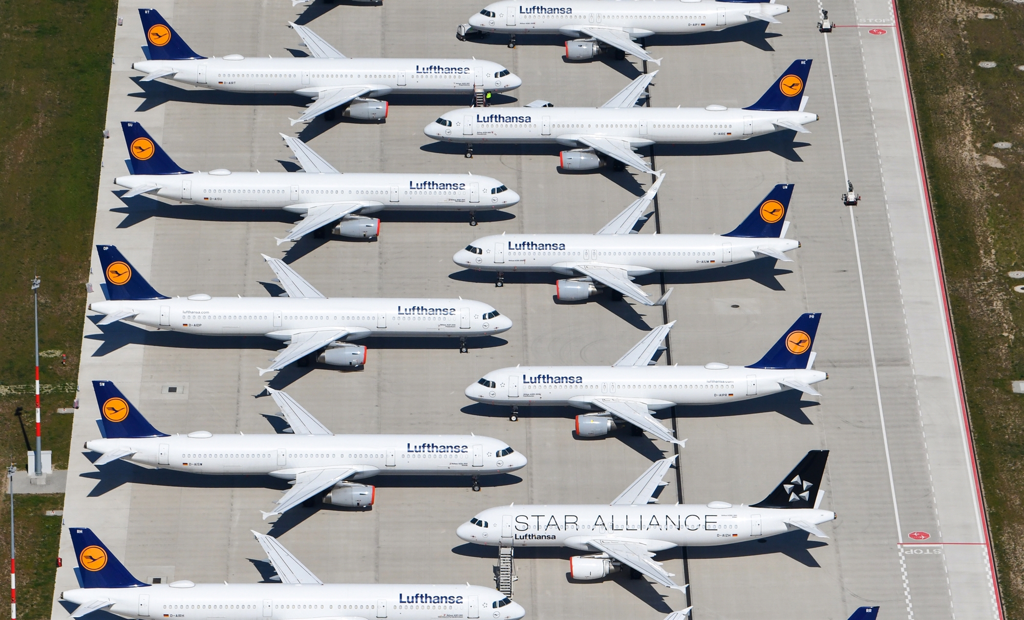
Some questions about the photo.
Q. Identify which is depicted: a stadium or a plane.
plane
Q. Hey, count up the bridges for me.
none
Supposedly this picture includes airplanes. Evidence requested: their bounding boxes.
[468,0,790,66]
[84,380,526,520]
[464,313,829,449]
[456,449,837,593]
[88,244,512,377]
[62,527,524,620]
[423,58,820,178]
[114,121,520,246]
[452,174,802,306]
[131,8,522,126]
